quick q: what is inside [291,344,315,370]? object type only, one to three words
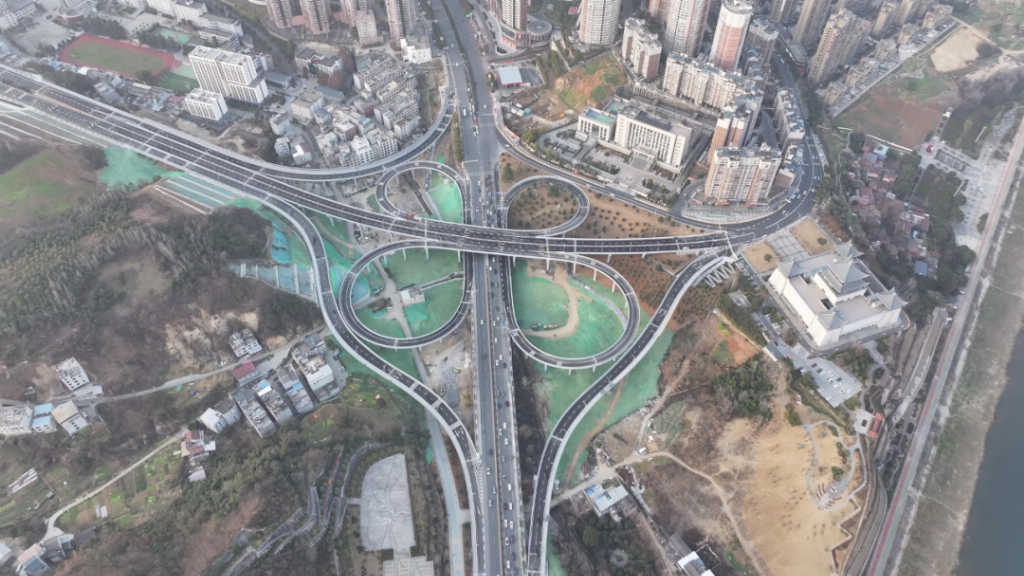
house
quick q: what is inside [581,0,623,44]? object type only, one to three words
building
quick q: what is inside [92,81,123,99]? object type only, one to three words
shed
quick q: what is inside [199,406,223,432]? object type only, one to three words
house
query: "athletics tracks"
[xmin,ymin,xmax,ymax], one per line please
[59,32,180,78]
